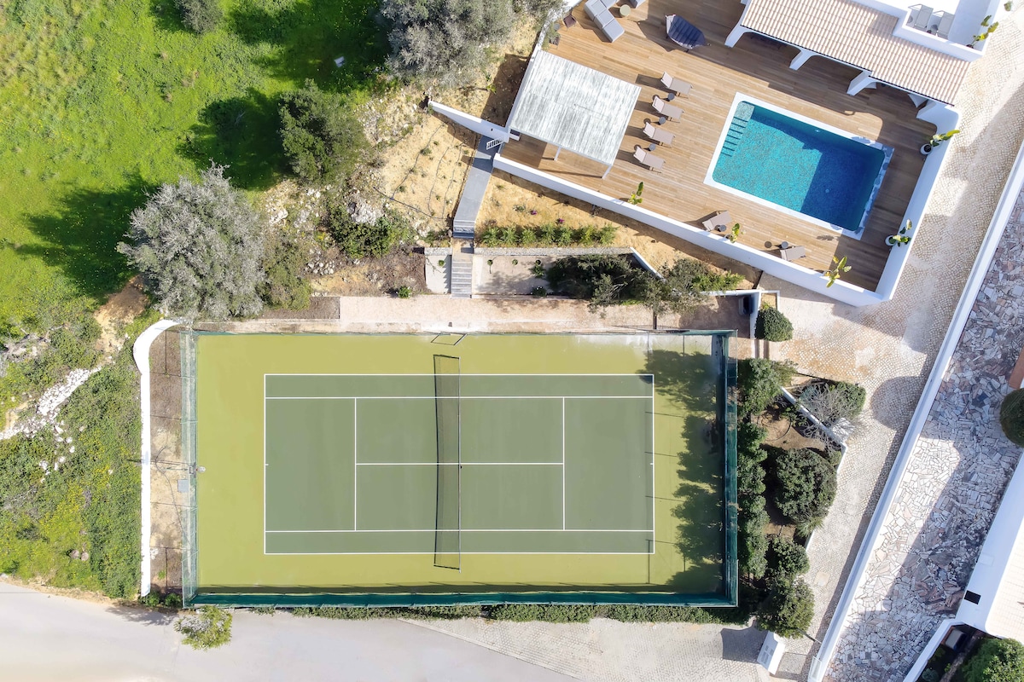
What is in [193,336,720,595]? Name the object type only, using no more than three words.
tennis court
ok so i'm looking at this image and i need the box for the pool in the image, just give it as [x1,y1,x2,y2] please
[704,92,893,239]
